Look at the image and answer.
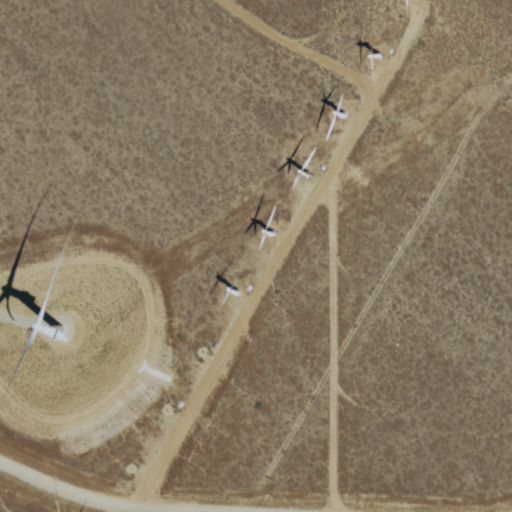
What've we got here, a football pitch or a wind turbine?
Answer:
wind turbine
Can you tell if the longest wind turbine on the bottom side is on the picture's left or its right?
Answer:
left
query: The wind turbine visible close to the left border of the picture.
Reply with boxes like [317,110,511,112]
[4,216,78,408]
